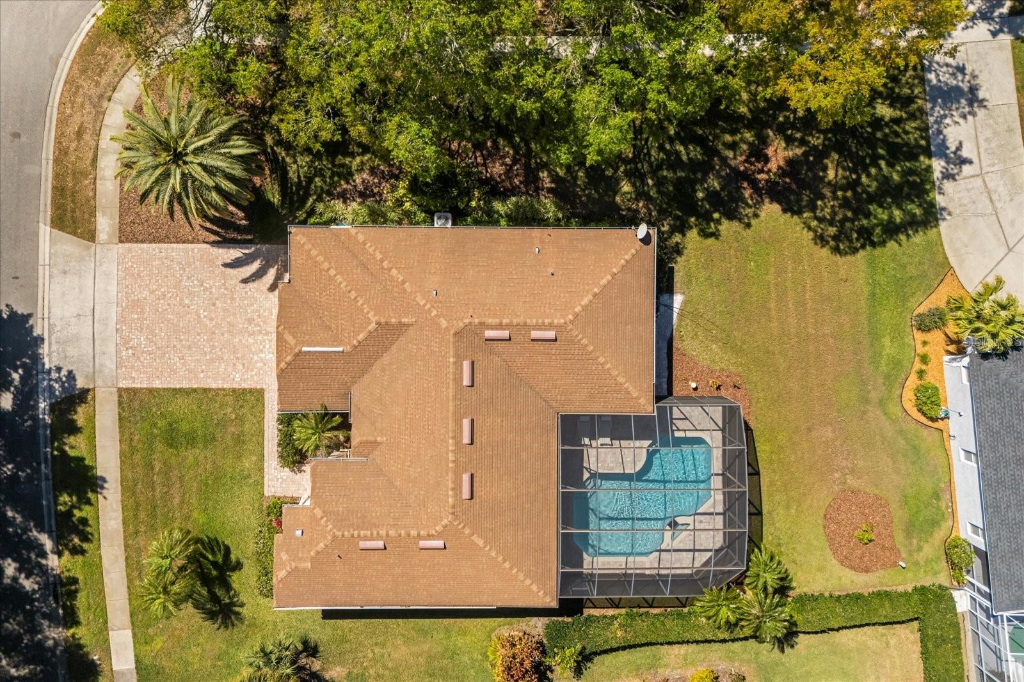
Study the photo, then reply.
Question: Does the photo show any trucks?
No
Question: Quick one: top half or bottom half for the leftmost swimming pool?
bottom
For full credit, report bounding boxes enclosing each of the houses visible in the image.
[274,225,658,610]
[941,325,1024,619]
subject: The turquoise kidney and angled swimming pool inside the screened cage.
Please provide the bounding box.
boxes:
[569,432,717,562]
